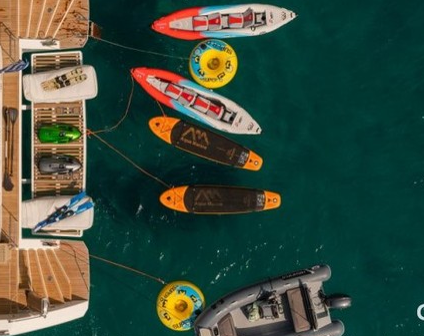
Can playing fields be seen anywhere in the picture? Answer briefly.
No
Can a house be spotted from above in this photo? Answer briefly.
No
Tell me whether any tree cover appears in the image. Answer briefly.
No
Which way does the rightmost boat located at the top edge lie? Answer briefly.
from left to right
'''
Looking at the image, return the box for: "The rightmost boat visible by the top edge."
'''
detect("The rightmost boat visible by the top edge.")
[151,3,296,39]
